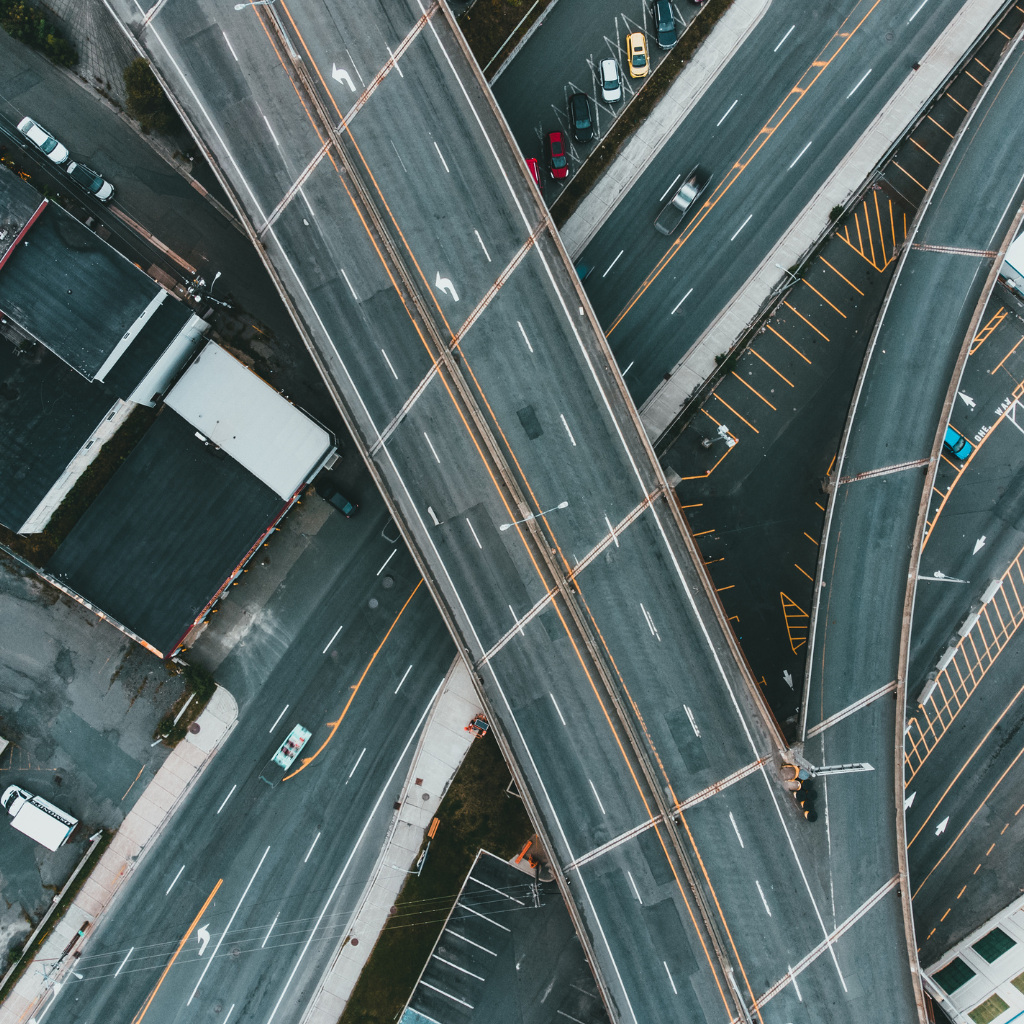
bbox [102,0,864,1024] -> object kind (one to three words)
overpass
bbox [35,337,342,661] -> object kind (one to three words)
building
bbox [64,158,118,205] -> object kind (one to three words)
car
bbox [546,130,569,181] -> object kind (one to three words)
car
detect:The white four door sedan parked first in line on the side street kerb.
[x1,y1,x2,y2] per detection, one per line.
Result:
[15,115,70,167]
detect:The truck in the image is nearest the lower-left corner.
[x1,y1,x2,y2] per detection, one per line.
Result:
[2,783,84,851]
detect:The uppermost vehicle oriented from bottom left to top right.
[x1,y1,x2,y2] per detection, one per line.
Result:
[655,164,711,236]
